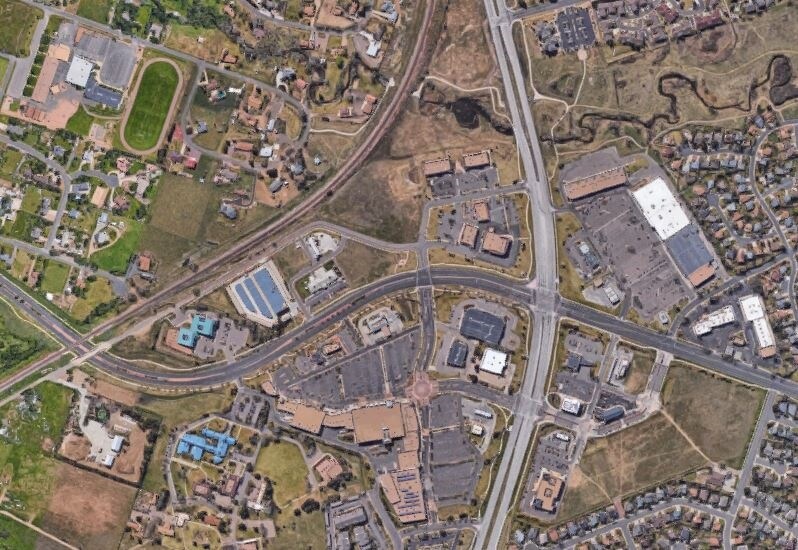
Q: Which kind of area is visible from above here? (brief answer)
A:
residential area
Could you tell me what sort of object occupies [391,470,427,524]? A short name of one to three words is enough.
building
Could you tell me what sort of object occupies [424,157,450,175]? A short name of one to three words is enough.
building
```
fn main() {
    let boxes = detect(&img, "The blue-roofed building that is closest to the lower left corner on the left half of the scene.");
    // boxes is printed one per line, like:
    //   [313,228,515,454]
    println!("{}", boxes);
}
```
[175,428,235,464]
